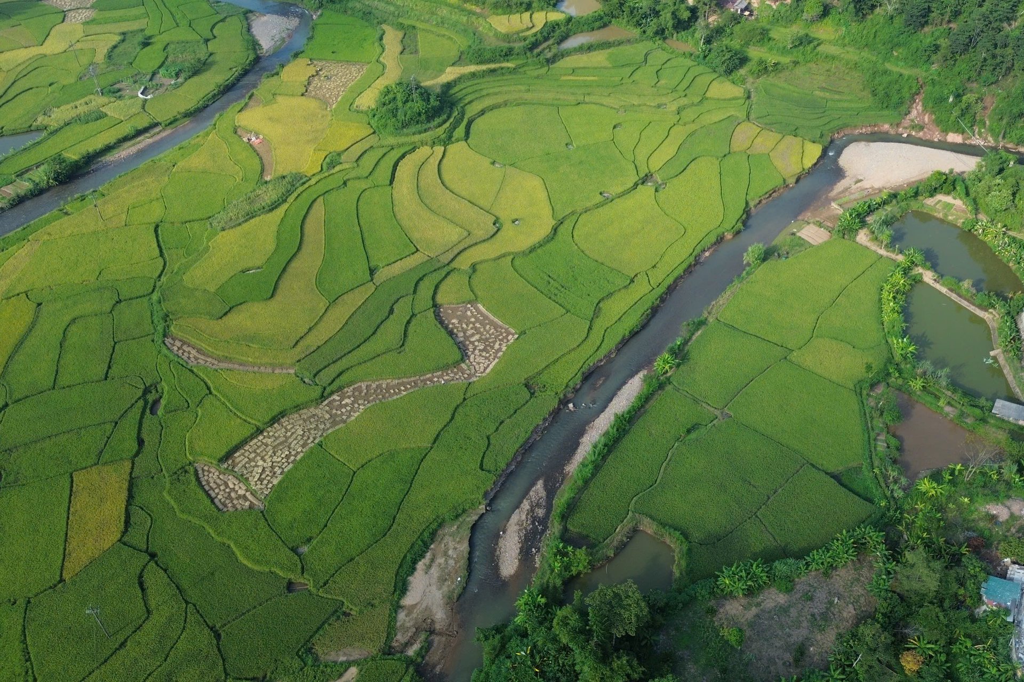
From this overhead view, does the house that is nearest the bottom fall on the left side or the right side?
right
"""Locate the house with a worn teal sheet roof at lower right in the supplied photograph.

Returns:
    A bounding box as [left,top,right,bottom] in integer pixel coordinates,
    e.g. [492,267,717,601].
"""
[980,575,1024,613]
